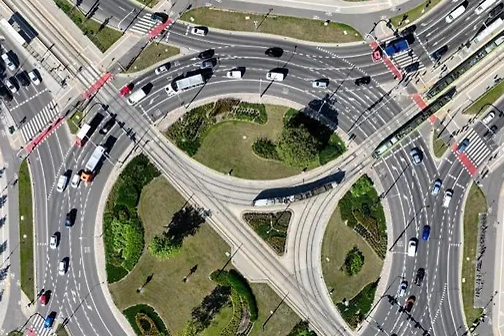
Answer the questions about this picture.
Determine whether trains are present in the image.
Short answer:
Yes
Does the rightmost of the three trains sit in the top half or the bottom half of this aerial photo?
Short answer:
top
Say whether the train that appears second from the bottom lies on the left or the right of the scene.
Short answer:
right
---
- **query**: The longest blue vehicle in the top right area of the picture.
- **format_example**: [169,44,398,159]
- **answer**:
[382,35,413,57]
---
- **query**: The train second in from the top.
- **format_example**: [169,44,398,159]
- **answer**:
[373,86,460,156]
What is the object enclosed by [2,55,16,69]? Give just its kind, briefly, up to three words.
vehicle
